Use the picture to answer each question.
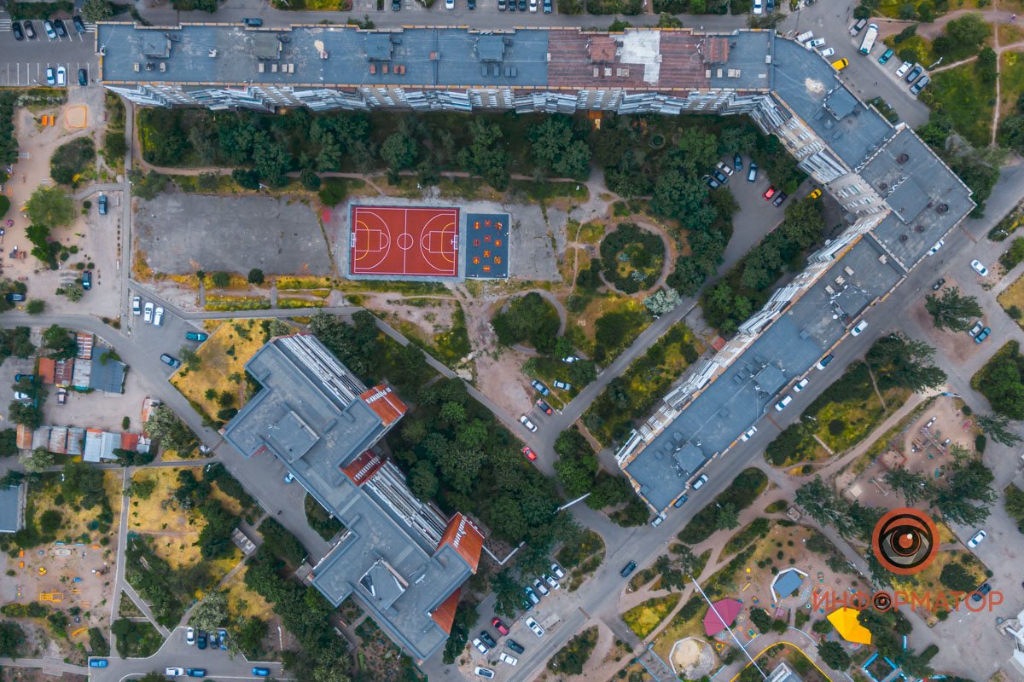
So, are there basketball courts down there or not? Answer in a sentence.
Yes, the image includes a basketball court.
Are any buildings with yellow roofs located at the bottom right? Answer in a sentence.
Yes, a building with a yellow roof shows up at the bottom right.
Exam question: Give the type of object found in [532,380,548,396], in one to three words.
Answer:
car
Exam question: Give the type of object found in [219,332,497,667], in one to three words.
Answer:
building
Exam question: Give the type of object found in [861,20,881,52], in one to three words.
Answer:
vehicle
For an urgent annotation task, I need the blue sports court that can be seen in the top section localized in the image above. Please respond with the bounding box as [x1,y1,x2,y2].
[465,213,510,277]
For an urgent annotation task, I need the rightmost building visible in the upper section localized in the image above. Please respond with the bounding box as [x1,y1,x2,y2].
[825,120,976,271]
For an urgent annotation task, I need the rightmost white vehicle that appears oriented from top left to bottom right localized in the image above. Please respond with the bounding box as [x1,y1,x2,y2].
[972,260,988,276]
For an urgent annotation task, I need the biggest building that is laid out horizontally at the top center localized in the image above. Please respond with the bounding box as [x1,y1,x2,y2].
[96,21,774,130]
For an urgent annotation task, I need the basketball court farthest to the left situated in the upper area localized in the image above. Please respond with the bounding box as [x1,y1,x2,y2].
[351,205,459,276]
